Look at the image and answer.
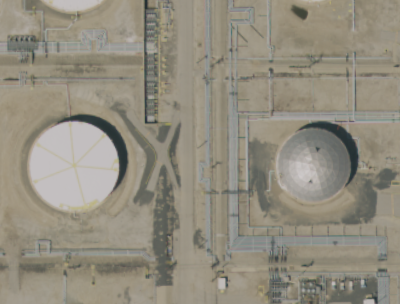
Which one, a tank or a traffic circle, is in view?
tank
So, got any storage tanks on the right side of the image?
Yes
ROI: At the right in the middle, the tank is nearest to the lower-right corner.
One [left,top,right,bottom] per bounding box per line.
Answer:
[276,127,352,204]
